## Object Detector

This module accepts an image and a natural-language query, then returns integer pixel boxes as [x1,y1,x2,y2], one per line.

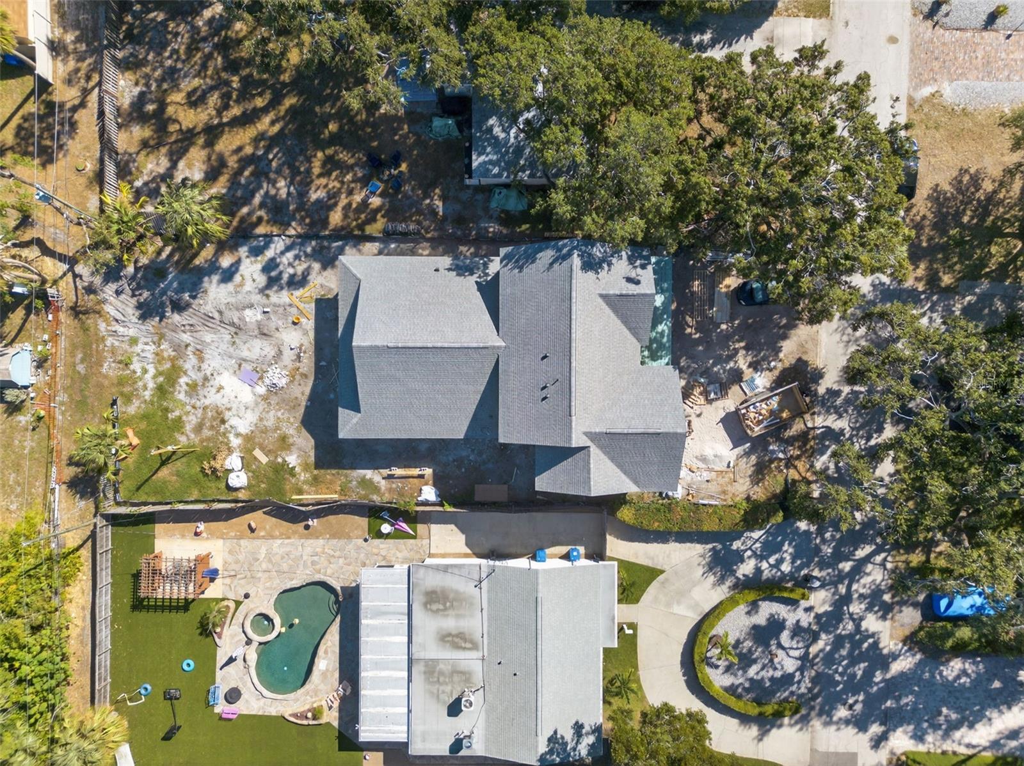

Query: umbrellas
[202,569,222,582]
[378,511,415,535]
[220,640,251,671]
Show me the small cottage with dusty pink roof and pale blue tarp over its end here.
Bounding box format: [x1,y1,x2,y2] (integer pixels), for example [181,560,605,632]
[0,347,42,386]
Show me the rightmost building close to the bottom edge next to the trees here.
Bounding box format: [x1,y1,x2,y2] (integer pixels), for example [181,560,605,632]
[360,554,619,766]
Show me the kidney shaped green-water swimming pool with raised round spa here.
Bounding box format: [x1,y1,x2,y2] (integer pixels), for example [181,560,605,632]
[241,575,346,703]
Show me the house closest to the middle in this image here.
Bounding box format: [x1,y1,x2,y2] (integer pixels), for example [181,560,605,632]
[337,240,687,496]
